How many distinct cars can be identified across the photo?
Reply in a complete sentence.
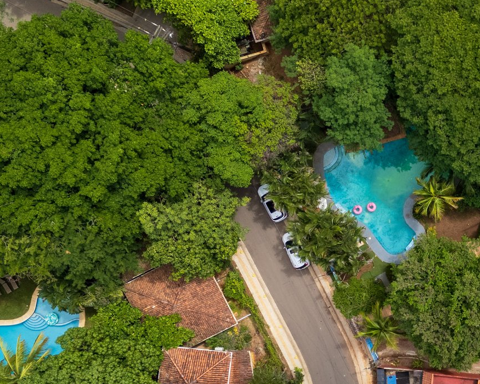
The number of cars here is 2.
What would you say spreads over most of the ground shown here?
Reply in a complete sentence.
For the most part, this view shows trees.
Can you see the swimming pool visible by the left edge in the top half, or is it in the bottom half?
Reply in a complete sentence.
The swimming pool visible by the left edge is in the bottom half of the image.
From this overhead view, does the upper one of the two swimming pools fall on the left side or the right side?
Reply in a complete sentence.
The upper one of the two swimming pools is on the right side of the image.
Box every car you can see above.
[255,184,285,223]
[279,232,309,271]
